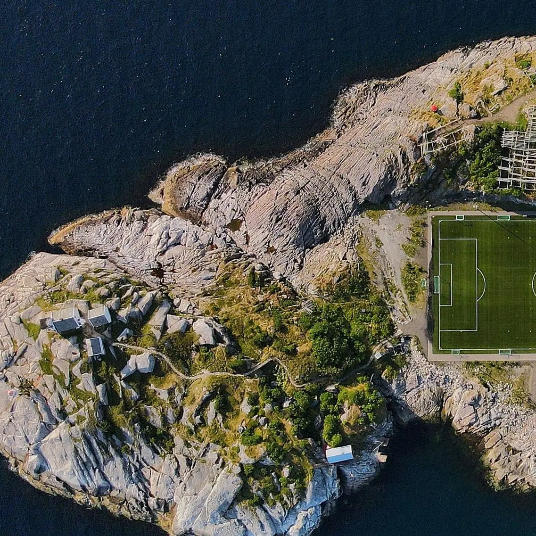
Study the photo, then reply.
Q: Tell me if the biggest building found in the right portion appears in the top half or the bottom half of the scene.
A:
bottom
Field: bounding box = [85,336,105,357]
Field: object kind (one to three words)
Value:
shed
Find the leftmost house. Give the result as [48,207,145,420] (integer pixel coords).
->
[40,305,86,335]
